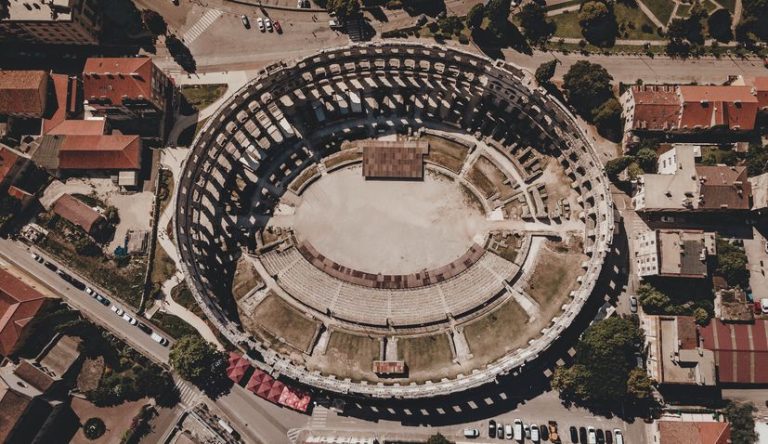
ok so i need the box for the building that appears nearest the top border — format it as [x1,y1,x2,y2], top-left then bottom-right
[0,0,95,41]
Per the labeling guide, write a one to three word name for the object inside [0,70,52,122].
house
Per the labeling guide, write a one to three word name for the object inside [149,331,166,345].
vehicle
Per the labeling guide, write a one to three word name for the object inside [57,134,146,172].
building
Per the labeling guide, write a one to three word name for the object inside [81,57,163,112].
house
